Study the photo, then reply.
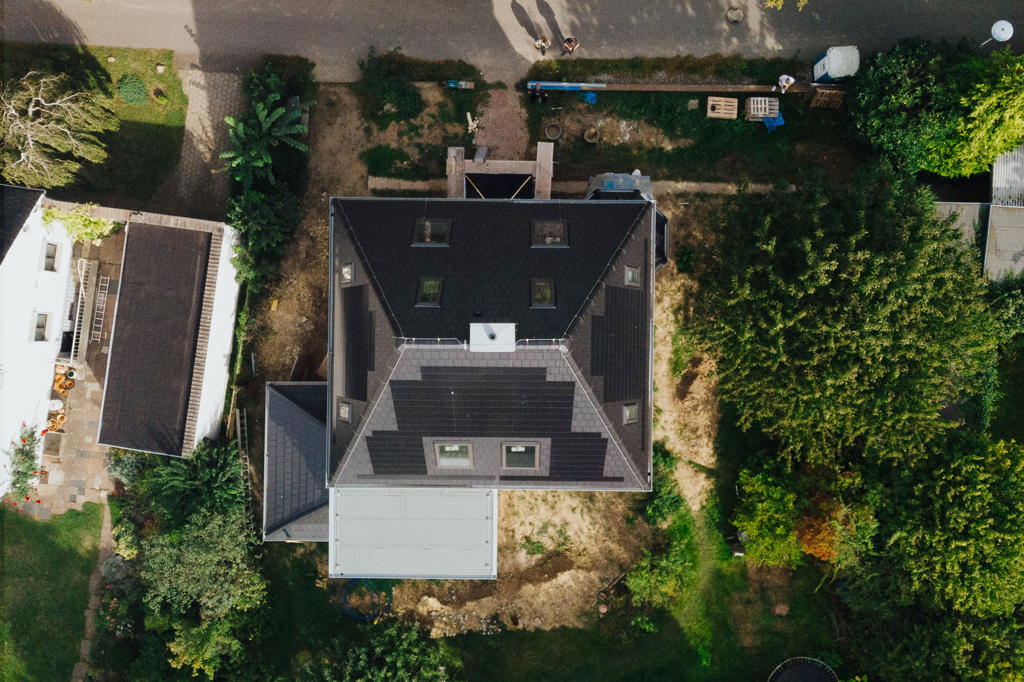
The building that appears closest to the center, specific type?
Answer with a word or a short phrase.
home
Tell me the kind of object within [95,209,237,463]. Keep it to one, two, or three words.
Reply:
building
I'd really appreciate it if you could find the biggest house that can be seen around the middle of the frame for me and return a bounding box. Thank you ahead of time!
[322,173,668,495]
